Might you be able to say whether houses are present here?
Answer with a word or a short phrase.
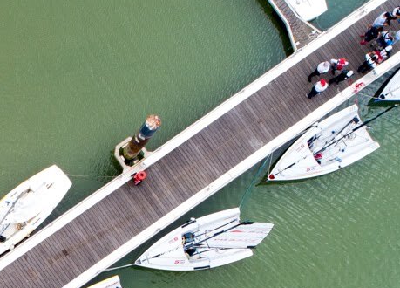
No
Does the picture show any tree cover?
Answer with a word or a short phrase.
No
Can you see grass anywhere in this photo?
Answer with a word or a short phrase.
No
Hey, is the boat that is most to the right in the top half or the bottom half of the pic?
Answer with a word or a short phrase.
top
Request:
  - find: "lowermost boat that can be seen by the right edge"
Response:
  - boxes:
[266,103,396,182]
